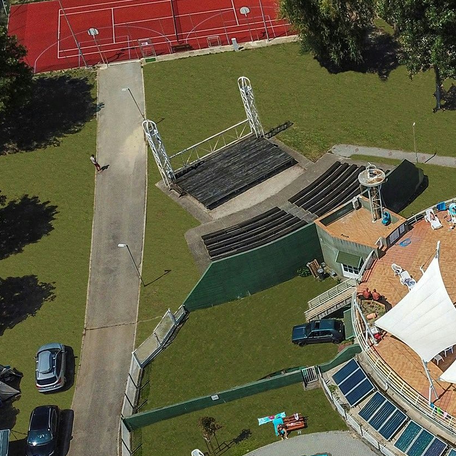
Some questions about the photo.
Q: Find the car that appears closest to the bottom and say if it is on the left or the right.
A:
left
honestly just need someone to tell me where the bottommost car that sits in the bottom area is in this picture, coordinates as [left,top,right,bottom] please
[26,405,66,456]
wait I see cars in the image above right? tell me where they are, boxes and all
[34,347,71,399]
[26,405,66,456]
[296,318,352,350]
